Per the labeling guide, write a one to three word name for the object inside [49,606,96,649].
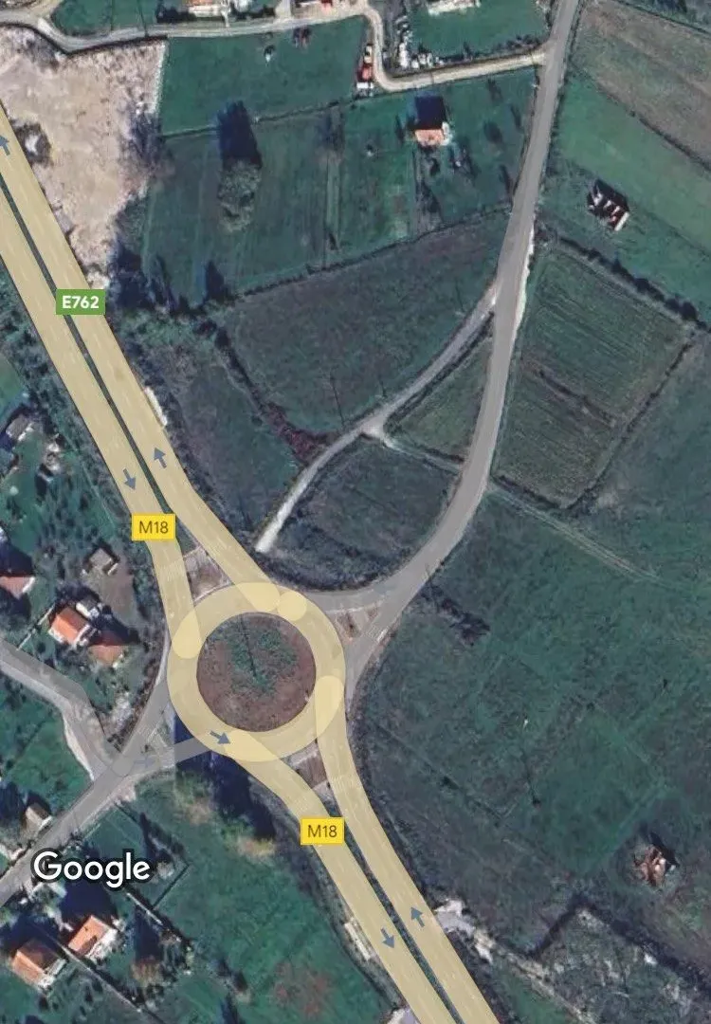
house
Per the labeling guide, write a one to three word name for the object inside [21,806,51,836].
house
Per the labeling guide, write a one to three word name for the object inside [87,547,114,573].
shed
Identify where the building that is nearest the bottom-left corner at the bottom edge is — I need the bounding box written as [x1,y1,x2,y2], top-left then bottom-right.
[11,941,64,990]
